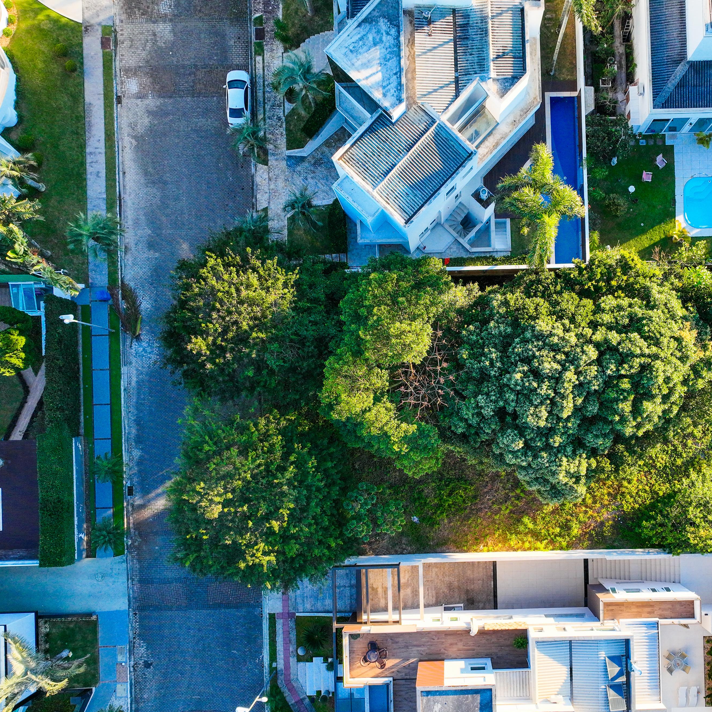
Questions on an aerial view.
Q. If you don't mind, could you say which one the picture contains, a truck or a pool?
pool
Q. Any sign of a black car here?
No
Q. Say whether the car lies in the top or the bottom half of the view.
top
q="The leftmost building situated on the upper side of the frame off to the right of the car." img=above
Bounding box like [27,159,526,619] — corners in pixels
[324,0,544,259]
